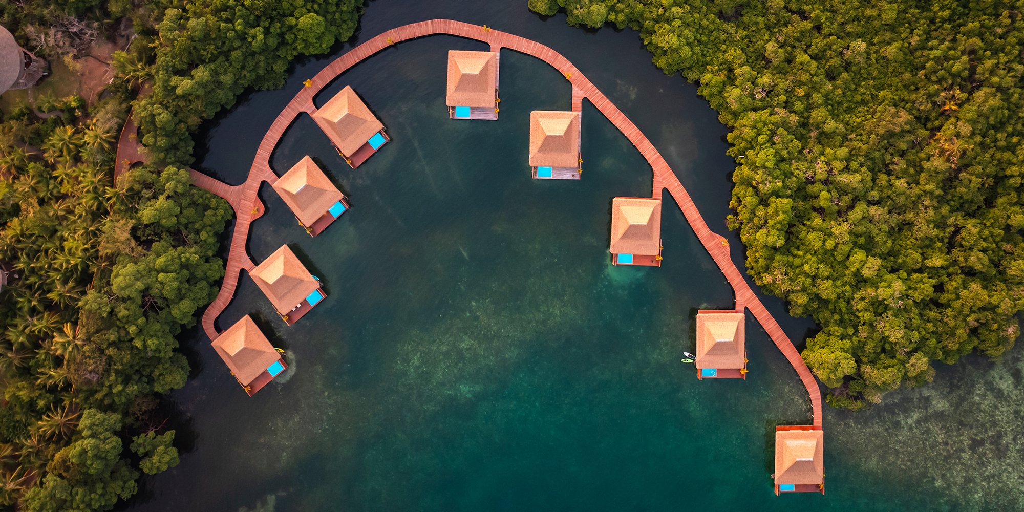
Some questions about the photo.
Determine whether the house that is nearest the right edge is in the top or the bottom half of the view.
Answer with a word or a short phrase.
bottom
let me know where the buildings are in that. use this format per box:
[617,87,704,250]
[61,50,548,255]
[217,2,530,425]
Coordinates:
[607,198,663,266]
[690,310,748,379]
[445,51,500,121]
[0,23,47,102]
[767,425,826,495]
[248,244,329,327]
[210,313,290,397]
[311,85,391,171]
[271,155,352,240]
[527,111,582,179]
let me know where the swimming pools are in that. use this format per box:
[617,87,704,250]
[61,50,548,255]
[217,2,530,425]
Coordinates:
[702,368,716,376]
[619,254,633,263]
[538,166,552,177]
[367,133,385,150]
[328,202,345,219]
[267,359,284,375]
[780,485,794,491]
[456,106,470,117]
[305,290,323,306]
